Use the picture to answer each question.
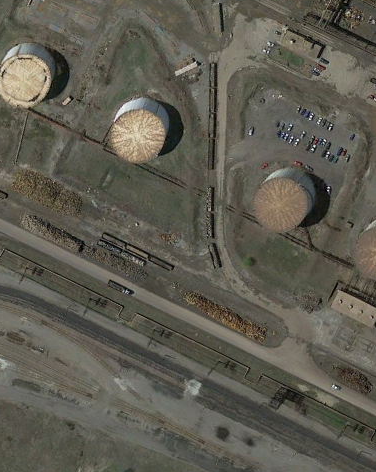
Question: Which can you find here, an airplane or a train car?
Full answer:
There is a train car in the scene.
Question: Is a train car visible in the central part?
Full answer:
Yes, a train car shows up in the central part.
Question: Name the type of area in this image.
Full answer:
What you see here is an industrial area.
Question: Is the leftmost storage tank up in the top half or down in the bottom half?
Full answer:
The top half of the photo is where the leftmost storage tank is.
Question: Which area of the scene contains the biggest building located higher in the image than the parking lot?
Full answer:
The biggest building located higher in the image than the parking lot is located in the top right region of the scene.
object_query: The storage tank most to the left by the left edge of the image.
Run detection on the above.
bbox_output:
[0,45,59,108]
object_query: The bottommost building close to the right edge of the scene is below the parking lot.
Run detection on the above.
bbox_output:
[332,287,376,327]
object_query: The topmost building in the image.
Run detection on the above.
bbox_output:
[277,28,324,59]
